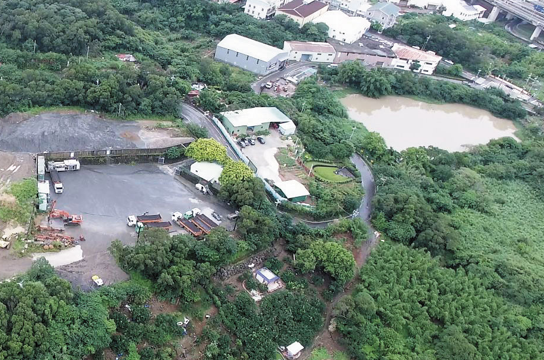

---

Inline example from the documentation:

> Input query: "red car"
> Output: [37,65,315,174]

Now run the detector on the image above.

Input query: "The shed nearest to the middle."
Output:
[271,179,312,204]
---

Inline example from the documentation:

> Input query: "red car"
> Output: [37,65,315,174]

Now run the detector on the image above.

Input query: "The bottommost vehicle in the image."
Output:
[90,272,105,284]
